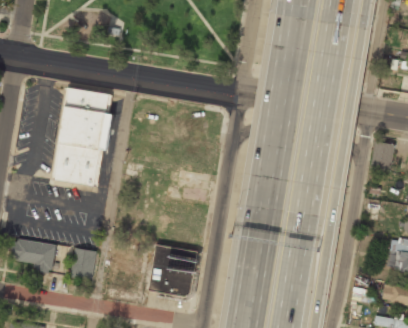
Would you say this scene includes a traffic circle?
No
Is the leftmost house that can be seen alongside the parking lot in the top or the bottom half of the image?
bottom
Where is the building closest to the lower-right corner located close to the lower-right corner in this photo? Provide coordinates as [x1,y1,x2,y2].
[374,314,408,328]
